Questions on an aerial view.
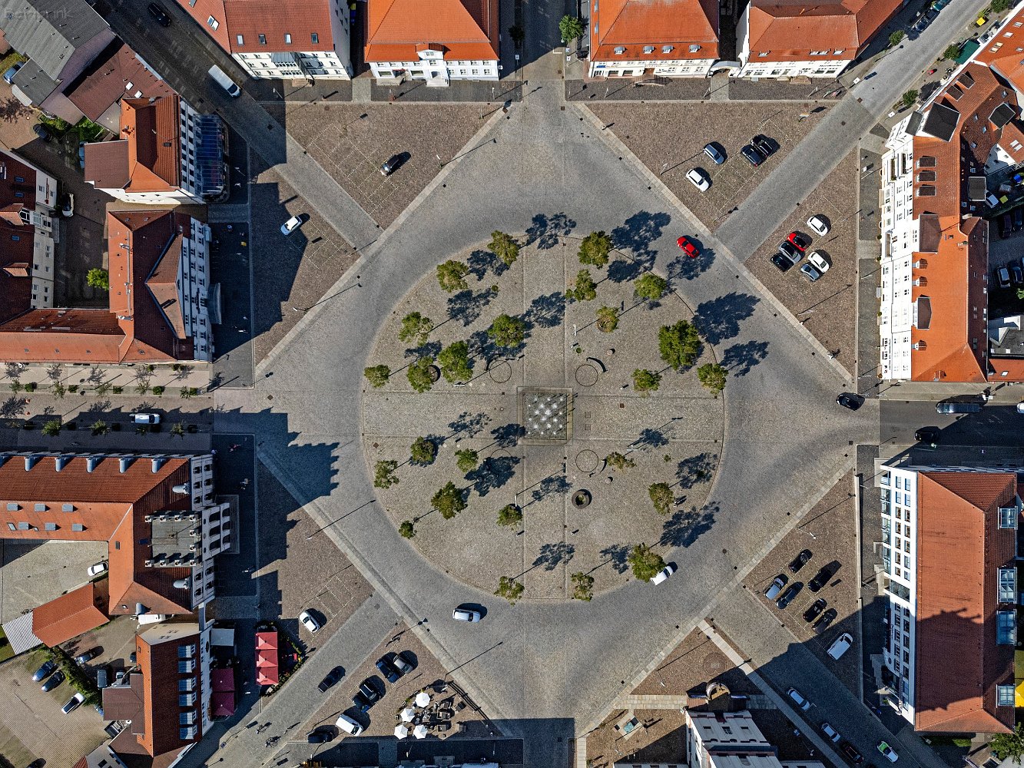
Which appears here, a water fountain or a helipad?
water fountain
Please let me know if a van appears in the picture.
Yes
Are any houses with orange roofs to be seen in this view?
Yes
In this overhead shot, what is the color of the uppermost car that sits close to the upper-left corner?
black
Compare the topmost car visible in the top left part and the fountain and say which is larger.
the fountain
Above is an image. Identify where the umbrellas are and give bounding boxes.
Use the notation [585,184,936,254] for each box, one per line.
[212,692,235,716]
[415,689,431,707]
[256,631,278,649]
[256,649,278,667]
[256,667,278,684]
[212,668,235,691]
[394,721,408,738]
[401,704,415,721]
[413,721,428,738]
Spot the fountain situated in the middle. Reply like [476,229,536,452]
[517,387,573,445]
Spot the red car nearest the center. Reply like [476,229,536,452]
[674,235,701,259]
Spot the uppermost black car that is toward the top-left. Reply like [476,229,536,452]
[145,1,174,29]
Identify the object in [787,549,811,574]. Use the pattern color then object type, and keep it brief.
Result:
black car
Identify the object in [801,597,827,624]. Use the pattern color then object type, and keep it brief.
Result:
black car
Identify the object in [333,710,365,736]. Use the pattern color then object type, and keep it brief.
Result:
white vehicle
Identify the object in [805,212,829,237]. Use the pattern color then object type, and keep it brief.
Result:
white car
